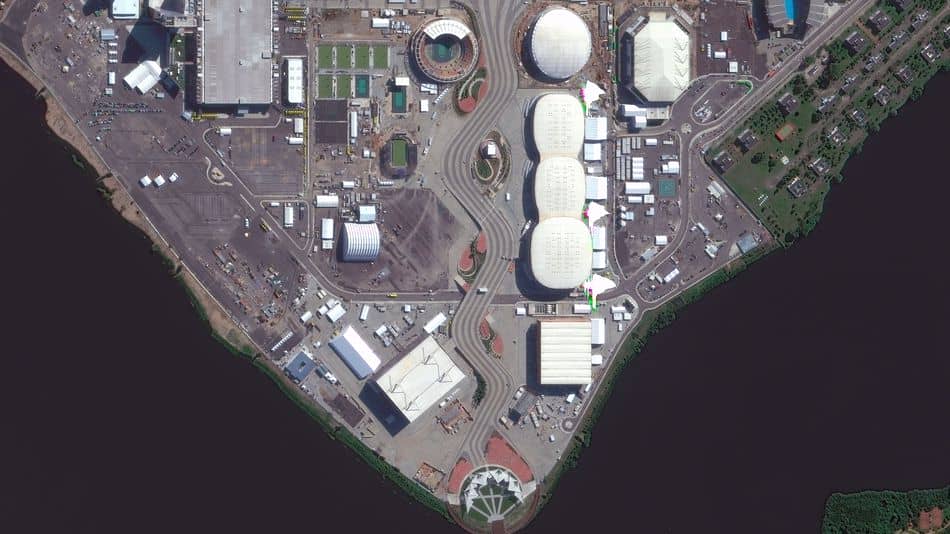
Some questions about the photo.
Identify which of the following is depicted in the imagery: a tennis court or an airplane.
tennis court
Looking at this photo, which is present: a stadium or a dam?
stadium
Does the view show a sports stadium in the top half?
Yes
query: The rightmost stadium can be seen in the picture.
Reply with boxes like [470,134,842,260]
[764,0,828,40]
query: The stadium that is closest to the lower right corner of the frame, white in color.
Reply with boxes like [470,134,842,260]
[535,319,592,386]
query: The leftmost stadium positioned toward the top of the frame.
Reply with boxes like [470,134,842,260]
[379,134,417,177]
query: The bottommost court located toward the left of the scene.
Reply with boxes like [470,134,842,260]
[315,122,347,143]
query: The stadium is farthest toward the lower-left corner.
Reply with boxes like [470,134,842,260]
[373,337,467,423]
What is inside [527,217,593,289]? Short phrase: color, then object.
white stadium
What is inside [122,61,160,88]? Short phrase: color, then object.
white tent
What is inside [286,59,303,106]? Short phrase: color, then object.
white tent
